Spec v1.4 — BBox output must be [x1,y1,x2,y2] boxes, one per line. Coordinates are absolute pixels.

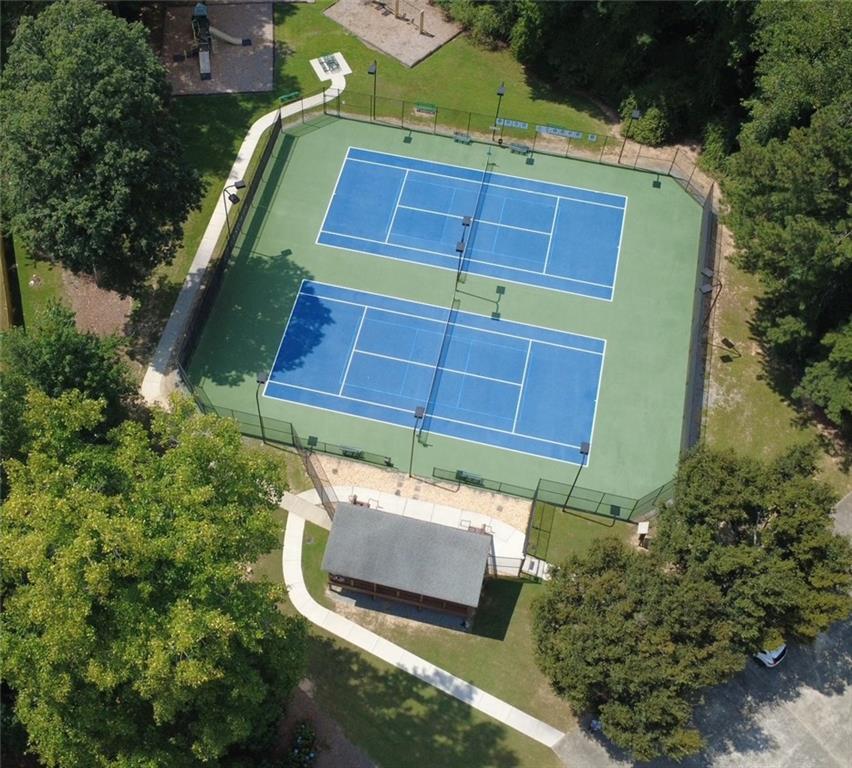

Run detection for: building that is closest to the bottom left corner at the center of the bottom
[321,501,492,620]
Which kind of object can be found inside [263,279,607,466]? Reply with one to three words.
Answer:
tennis court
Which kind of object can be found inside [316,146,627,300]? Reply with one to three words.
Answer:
tennis court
